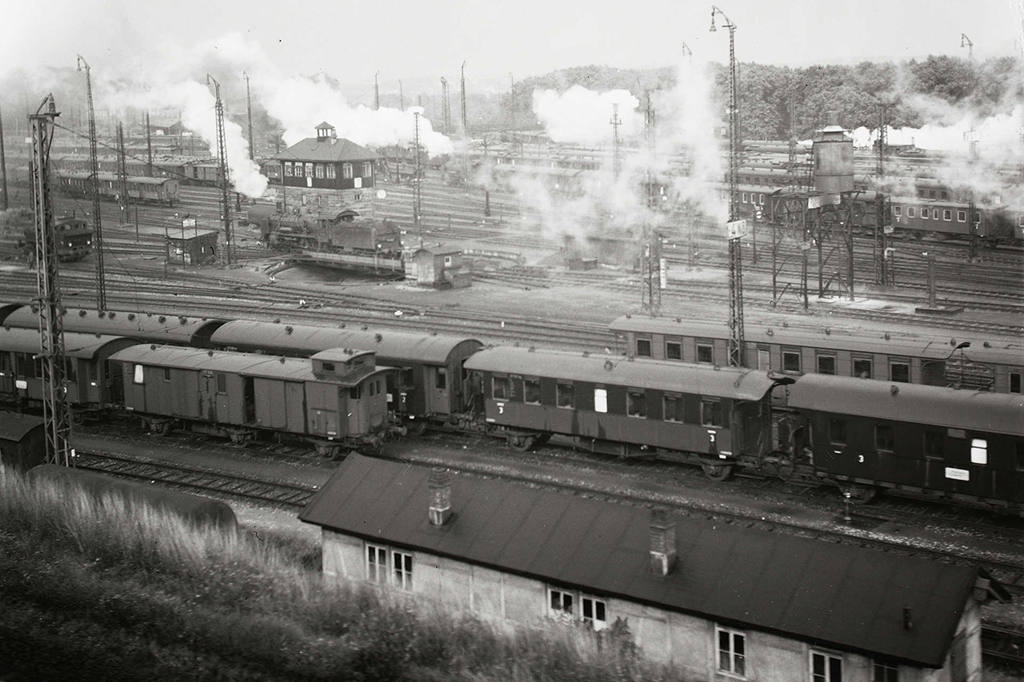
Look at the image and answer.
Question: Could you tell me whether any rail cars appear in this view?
Yes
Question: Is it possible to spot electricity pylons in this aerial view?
Yes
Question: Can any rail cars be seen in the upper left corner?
Yes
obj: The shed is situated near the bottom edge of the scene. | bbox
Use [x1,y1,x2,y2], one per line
[299,451,1011,682]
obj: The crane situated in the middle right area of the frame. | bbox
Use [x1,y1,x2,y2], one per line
[904,247,970,318]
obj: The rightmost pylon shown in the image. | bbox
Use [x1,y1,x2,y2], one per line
[966,128,980,260]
